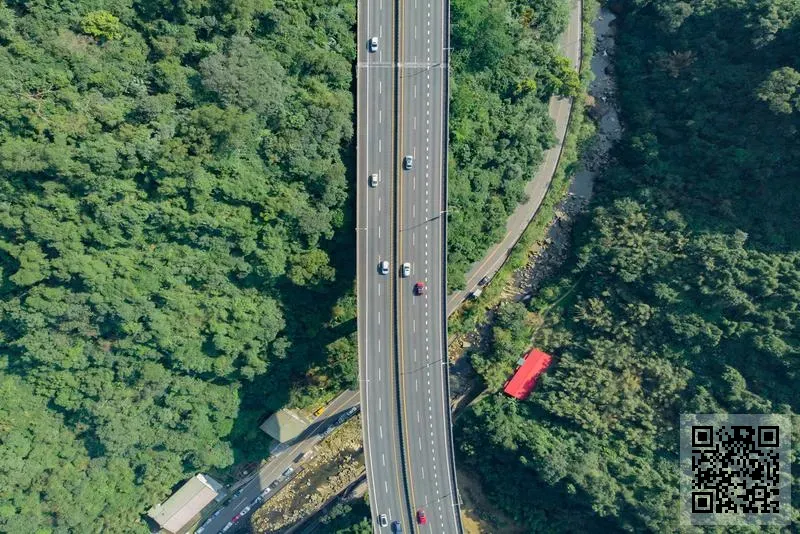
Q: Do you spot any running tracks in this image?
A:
No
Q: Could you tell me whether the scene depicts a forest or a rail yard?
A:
forest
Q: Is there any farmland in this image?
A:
No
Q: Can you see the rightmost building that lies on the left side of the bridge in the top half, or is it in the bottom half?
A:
bottom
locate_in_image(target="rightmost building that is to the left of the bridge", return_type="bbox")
[260,408,309,442]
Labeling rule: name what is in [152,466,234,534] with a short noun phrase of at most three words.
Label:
building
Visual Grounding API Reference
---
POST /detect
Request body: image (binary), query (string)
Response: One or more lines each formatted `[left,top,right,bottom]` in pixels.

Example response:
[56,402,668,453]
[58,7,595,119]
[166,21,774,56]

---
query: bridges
[357,0,463,534]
